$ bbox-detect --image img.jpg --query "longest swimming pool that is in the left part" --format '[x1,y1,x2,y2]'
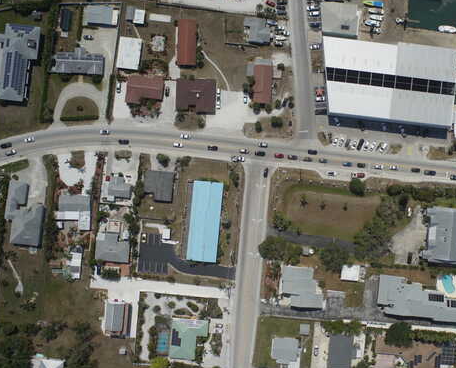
[154,321,170,357]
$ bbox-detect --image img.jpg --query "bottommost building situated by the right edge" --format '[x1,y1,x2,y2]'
[374,333,440,368]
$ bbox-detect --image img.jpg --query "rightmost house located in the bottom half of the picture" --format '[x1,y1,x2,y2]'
[424,206,456,264]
